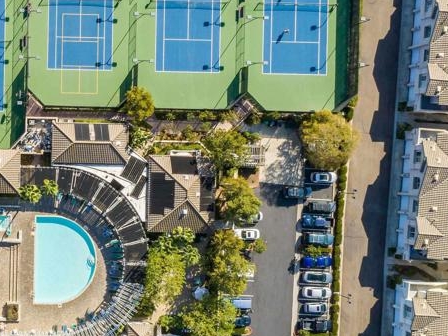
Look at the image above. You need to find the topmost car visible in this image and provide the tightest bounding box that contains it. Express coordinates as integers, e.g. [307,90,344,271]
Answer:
[308,170,337,184]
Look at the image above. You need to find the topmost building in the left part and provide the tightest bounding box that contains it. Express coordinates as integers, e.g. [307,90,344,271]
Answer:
[51,121,129,165]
